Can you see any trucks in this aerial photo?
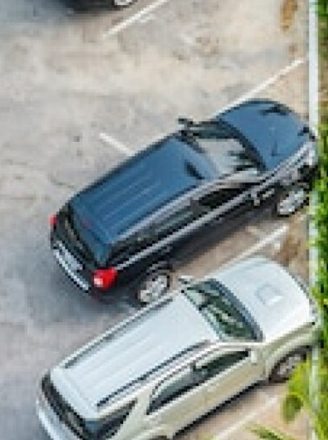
No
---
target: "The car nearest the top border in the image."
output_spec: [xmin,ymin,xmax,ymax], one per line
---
[42,104,320,316]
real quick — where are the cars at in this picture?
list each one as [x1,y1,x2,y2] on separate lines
[42,104,320,316]
[31,255,319,440]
